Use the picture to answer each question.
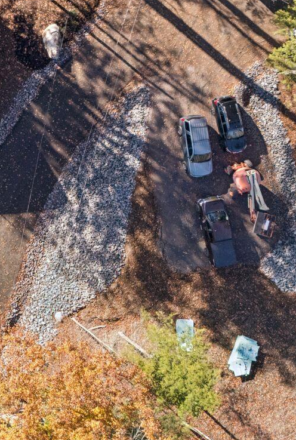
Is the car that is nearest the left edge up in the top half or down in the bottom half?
top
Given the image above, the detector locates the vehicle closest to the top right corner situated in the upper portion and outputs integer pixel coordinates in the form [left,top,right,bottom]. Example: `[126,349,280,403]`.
[206,96,248,155]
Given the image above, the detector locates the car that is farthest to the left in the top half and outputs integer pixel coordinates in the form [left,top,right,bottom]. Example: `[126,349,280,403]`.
[174,114,214,178]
